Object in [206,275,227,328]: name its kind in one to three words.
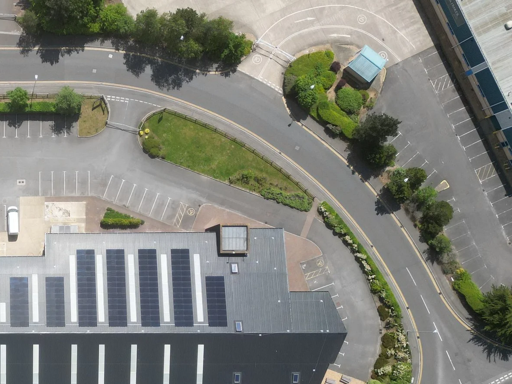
solar array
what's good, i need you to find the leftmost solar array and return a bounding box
[10,277,29,328]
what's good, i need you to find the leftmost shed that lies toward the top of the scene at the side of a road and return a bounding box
[342,45,389,84]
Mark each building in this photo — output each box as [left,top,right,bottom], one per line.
[342,45,389,84]
[0,224,347,384]
[427,0,512,172]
